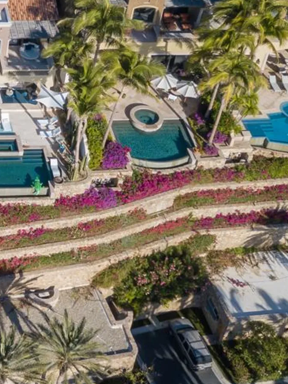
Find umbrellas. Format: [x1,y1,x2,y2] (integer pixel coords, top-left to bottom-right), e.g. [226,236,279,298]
[173,82,202,114]
[147,76,179,108]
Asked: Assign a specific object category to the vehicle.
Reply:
car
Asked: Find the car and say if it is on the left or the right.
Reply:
right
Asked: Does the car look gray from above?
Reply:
Yes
